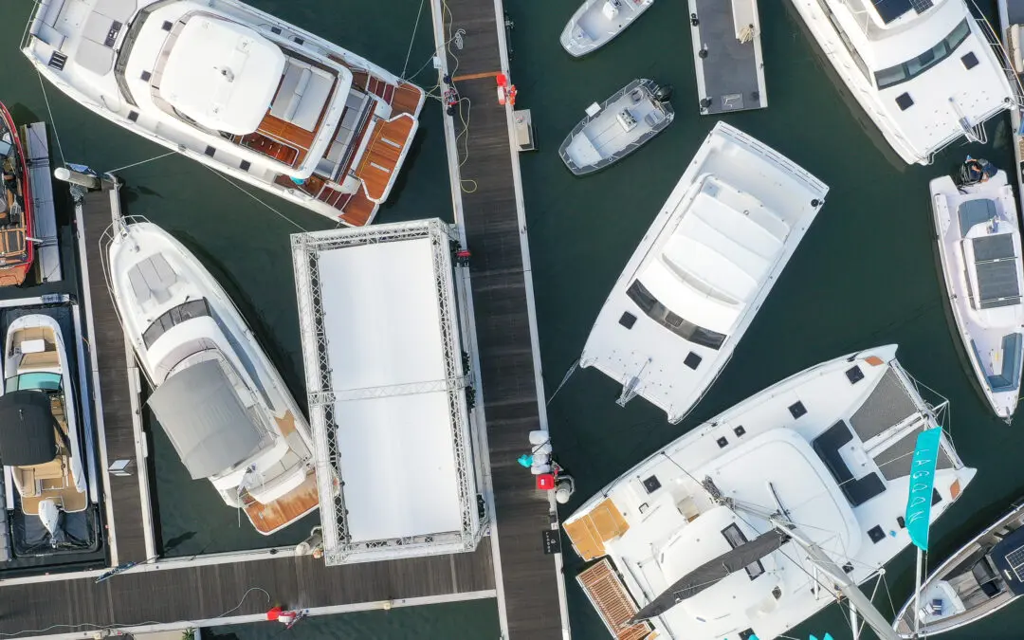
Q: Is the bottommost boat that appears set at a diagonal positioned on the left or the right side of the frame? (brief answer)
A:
right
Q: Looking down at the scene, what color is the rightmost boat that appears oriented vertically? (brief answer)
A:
white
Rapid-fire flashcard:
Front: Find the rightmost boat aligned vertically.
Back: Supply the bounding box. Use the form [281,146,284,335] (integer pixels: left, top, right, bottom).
[922,163,1024,423]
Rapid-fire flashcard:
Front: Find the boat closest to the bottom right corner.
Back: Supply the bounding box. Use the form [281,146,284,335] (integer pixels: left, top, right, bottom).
[887,501,1024,639]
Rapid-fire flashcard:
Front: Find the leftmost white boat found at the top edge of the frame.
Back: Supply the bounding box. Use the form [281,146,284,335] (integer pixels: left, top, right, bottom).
[17,0,427,227]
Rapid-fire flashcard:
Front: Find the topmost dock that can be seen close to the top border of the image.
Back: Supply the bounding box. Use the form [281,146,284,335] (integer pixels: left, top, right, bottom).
[685,0,768,118]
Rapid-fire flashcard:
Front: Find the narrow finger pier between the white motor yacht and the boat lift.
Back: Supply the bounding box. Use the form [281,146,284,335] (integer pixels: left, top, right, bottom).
[75,171,162,566]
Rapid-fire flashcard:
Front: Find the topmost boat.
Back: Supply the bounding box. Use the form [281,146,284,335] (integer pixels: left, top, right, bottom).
[559,0,658,60]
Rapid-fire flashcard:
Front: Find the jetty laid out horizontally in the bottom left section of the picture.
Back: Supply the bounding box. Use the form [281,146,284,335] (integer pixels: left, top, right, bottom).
[0,535,500,640]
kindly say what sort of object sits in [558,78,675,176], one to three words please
boat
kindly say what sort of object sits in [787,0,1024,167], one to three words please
boat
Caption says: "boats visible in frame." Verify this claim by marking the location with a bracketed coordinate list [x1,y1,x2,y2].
[545,121,829,424]
[559,0,658,60]
[558,78,675,176]
[922,163,1024,423]
[99,215,321,534]
[17,0,427,227]
[562,343,982,640]
[0,97,44,288]
[787,0,1024,167]
[887,501,1024,639]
